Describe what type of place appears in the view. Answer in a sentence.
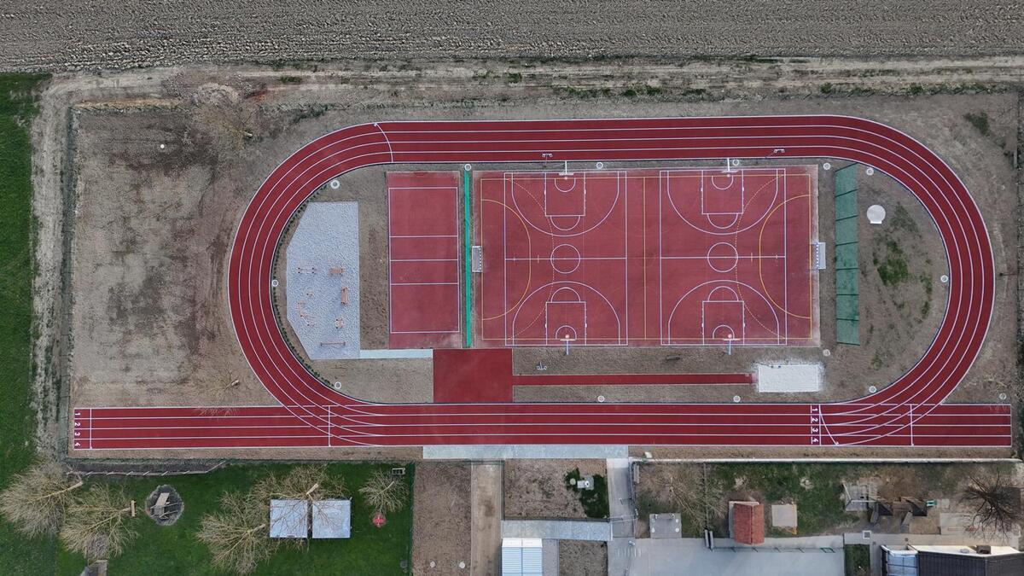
It's a sports ground.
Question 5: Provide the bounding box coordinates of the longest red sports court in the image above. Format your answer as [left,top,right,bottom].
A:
[473,165,821,348]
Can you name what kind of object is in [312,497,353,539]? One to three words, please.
shed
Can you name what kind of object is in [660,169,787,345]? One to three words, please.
basketball court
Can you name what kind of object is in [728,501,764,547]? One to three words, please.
shed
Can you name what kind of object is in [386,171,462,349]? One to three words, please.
sports court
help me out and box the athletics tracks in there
[73,114,1012,450]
